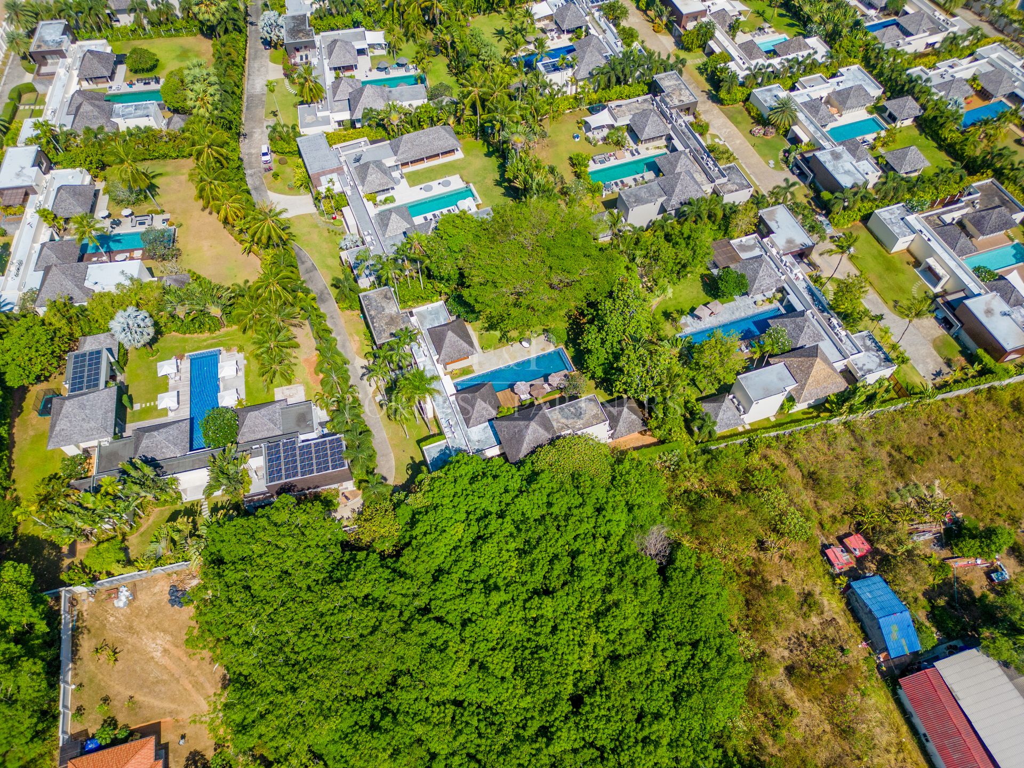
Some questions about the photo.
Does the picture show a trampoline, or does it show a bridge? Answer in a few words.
trampoline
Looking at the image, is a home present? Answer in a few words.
Yes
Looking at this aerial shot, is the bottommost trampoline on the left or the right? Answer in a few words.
left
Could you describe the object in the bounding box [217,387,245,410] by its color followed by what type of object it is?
white umbrella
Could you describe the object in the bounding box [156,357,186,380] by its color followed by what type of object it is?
white umbrella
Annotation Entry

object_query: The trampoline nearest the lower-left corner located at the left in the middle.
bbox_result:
[29,387,65,421]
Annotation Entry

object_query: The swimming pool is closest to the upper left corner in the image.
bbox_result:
[107,89,164,104]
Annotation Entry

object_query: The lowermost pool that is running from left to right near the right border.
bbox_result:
[962,240,1024,274]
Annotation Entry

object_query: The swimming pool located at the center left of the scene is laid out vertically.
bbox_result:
[187,347,226,452]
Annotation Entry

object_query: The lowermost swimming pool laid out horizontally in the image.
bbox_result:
[452,345,582,400]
